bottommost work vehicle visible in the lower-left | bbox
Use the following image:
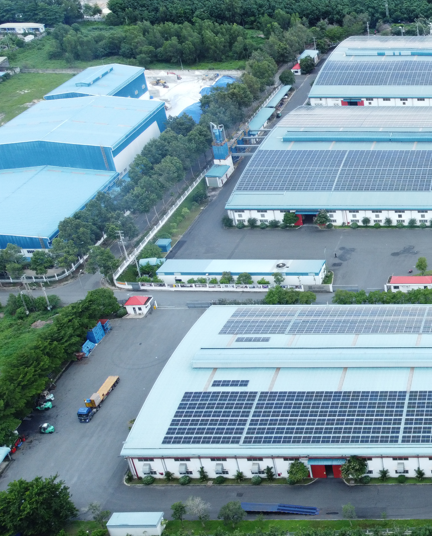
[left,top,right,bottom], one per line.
[31,422,53,435]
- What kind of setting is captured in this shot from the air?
industrial area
